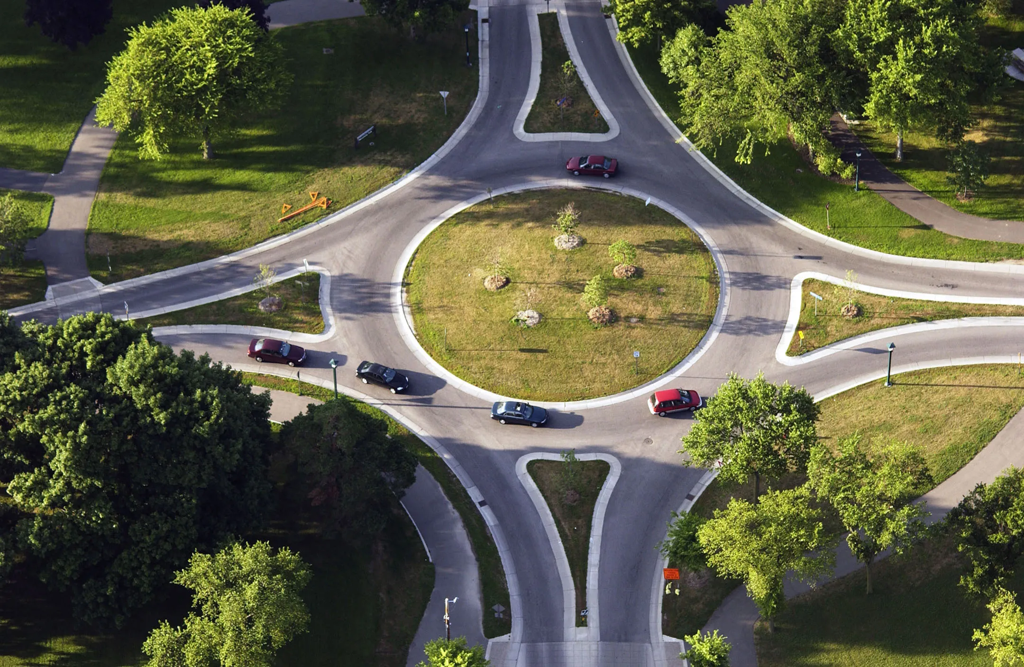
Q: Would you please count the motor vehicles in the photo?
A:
5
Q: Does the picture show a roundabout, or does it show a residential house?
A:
roundabout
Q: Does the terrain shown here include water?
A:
No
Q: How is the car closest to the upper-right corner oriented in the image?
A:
horizontally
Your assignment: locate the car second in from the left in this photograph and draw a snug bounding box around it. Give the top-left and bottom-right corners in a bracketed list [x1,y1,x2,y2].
[353,360,413,394]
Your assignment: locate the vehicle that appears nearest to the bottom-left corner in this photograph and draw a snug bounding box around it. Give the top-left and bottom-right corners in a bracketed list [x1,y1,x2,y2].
[246,338,308,367]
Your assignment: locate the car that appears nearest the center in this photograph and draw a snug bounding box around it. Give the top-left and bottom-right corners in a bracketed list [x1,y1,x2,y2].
[489,399,550,427]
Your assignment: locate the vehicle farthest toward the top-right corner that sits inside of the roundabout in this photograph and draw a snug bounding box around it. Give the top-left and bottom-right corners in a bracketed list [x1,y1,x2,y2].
[566,153,619,178]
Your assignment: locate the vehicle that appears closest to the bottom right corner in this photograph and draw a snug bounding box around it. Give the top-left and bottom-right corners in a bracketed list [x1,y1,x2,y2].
[647,387,703,416]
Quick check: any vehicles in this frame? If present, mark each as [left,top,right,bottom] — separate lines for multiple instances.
[566,153,619,178]
[489,399,550,427]
[353,360,413,394]
[246,338,308,367]
[647,387,703,416]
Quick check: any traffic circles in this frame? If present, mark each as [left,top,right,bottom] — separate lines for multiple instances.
[338,146,784,450]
